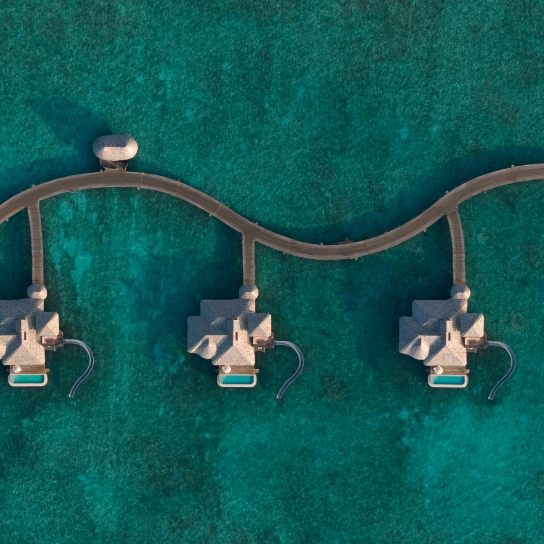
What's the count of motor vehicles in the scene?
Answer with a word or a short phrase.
none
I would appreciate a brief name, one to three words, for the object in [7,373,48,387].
swimming pool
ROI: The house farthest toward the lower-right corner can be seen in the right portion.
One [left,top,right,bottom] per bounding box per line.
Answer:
[400,285,493,376]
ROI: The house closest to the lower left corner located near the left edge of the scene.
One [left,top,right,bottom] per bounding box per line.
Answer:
[0,284,72,375]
